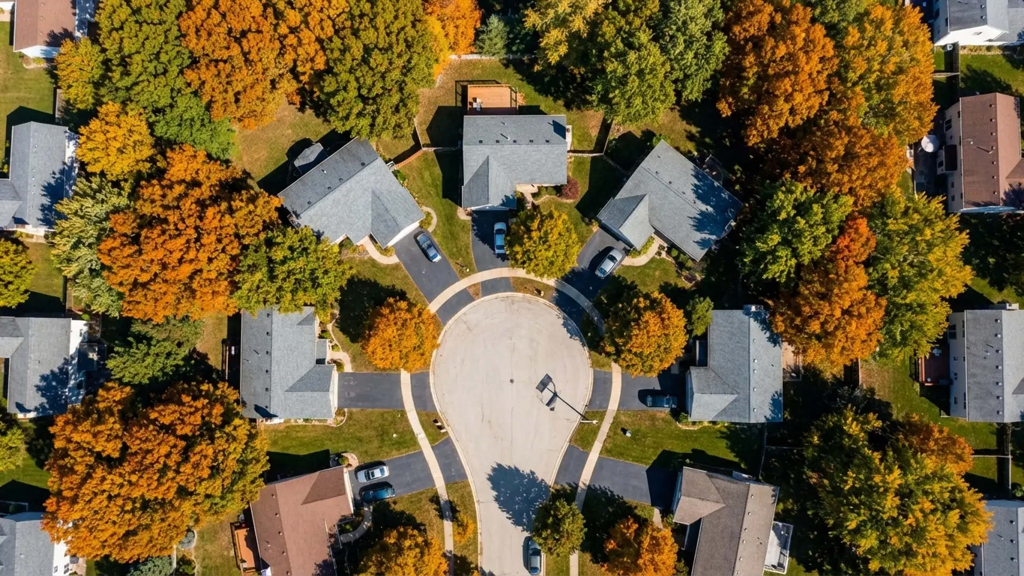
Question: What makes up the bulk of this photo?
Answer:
trees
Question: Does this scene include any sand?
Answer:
No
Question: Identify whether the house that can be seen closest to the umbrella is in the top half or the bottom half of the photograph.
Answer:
top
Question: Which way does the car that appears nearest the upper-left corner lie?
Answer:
diagonally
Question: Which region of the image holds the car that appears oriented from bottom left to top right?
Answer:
center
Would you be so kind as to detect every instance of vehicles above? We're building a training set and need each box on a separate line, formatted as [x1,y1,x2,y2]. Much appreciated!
[414,230,444,264]
[492,221,508,256]
[360,484,397,505]
[527,538,543,573]
[594,247,624,280]
[354,461,392,482]
[644,393,680,411]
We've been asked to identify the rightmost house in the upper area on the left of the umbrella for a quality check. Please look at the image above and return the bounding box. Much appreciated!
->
[596,139,742,262]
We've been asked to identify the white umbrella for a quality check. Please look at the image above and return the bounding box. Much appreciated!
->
[918,135,938,153]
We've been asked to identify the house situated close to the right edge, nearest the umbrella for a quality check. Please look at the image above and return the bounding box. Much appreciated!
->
[932,94,1024,210]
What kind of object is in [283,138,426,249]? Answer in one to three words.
house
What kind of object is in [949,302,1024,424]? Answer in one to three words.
house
